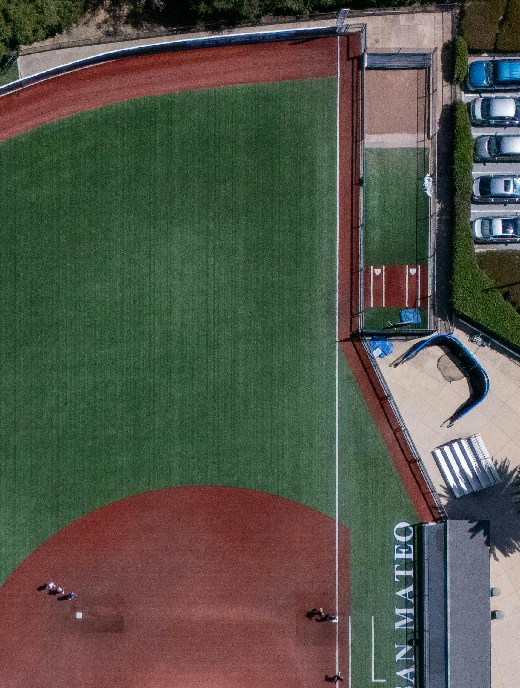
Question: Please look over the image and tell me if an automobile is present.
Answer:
Yes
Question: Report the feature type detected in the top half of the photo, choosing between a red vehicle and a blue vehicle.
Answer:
blue vehicle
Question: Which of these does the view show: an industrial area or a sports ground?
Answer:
sports ground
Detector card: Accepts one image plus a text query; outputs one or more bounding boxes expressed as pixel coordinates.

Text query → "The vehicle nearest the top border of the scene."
[467,54,520,92]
